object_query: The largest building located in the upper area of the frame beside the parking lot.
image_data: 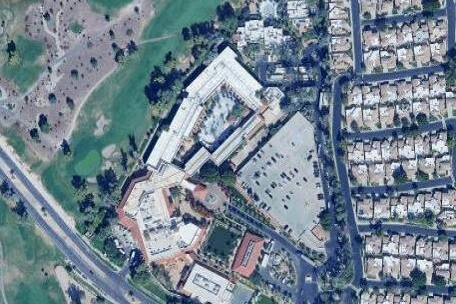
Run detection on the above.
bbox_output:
[145,46,263,178]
